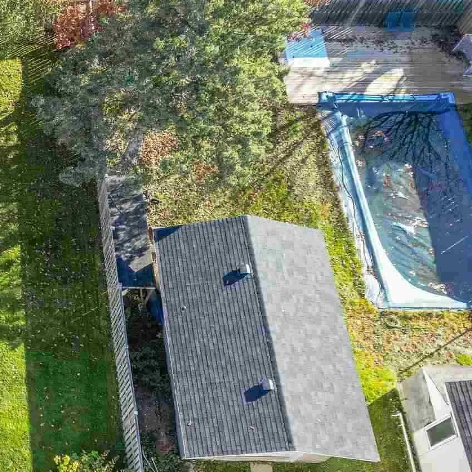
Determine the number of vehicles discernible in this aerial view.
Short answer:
0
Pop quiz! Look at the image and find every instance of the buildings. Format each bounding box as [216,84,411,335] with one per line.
[414,376,472,472]
[142,214,382,468]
